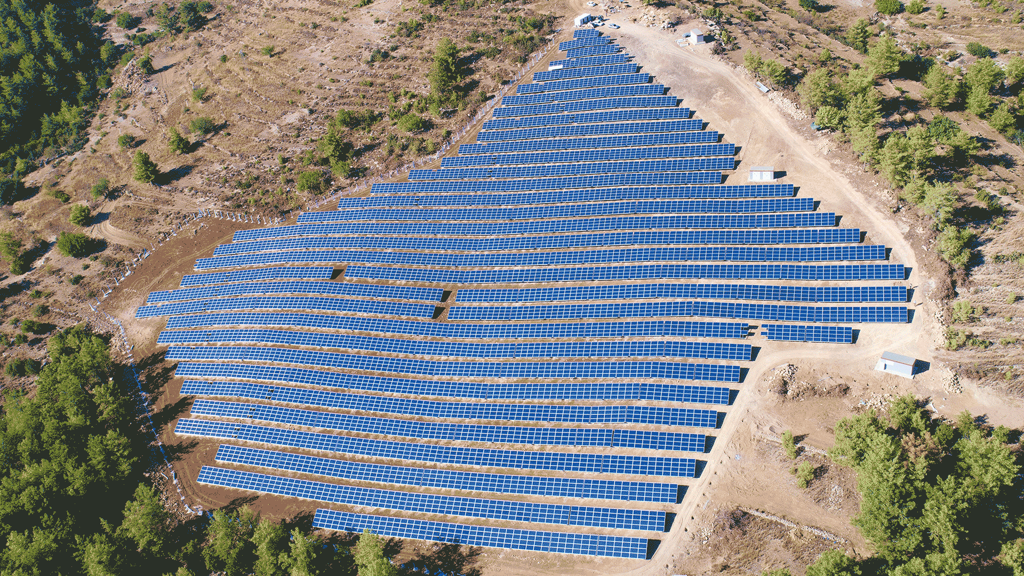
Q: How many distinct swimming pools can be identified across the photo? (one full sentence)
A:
The count of swimming pools is 0.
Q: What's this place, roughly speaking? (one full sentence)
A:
It's a solar farm.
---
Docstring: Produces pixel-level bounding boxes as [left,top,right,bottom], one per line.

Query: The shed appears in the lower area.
[873,349,918,380]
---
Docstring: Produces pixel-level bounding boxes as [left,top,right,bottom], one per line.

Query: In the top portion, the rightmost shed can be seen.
[747,165,777,182]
